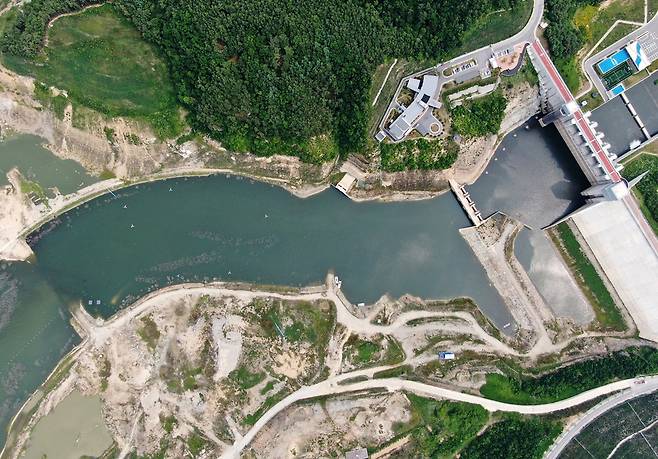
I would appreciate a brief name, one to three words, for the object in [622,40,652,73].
building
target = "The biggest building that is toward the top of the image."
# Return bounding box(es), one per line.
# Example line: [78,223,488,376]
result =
[384,75,442,143]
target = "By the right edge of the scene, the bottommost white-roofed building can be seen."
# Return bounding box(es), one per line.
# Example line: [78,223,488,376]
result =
[601,178,630,202]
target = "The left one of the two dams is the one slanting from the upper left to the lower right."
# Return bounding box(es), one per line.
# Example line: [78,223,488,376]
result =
[449,178,484,228]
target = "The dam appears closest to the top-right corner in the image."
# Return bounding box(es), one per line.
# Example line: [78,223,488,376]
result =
[528,37,623,190]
